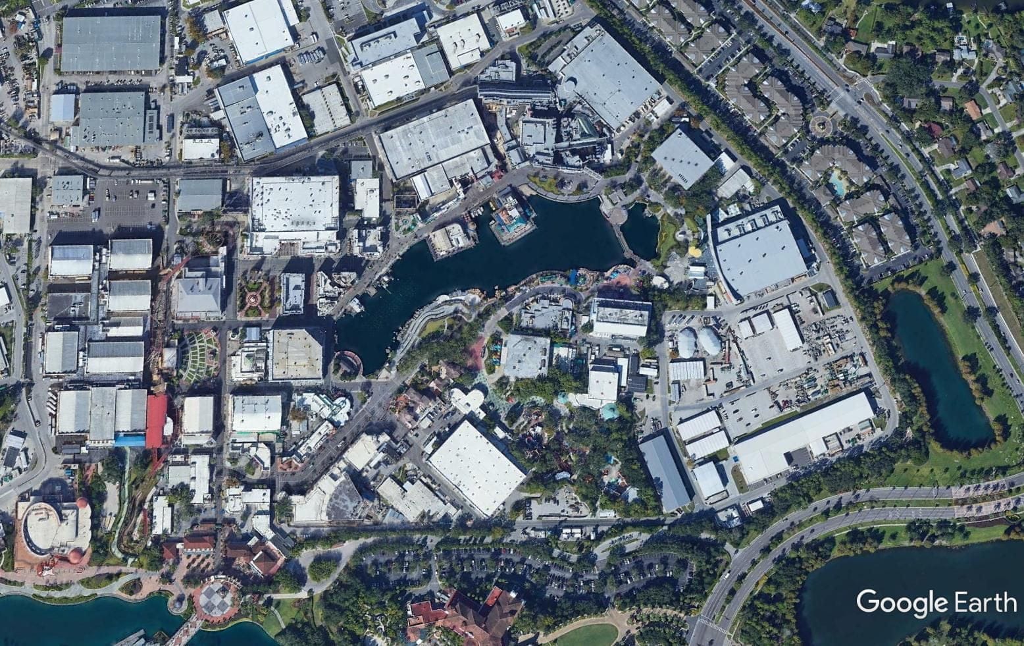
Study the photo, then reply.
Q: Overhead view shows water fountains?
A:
Yes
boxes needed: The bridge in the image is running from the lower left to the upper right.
[159,611,210,646]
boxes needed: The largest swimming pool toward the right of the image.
[829,170,858,198]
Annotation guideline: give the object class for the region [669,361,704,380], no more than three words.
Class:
shed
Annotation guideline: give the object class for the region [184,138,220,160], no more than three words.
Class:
shed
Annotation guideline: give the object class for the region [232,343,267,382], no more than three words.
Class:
building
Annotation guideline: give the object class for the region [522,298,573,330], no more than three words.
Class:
building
